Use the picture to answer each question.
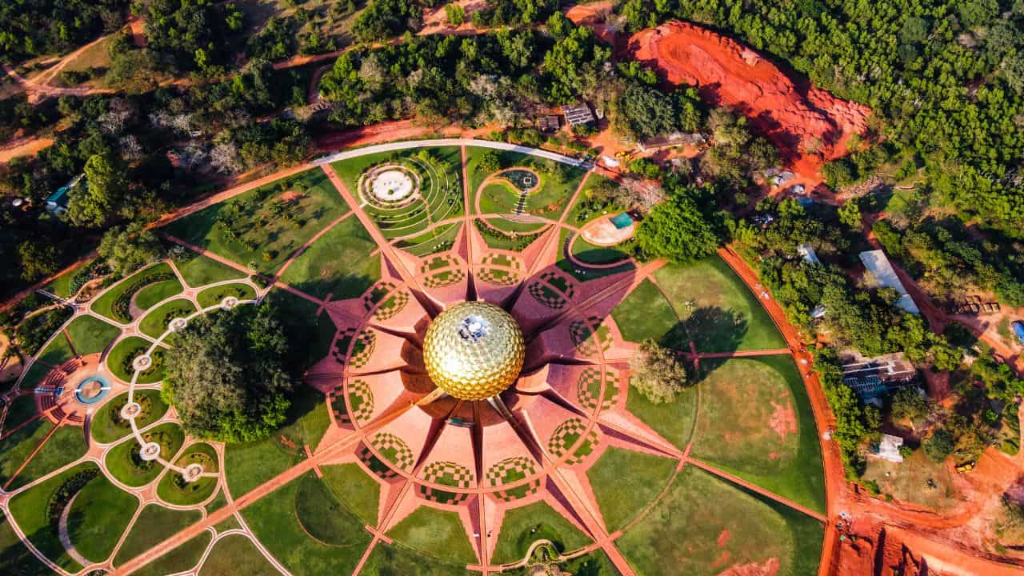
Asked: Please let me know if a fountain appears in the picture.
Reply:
Yes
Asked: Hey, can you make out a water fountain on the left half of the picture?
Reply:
Yes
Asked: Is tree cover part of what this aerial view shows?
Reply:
Yes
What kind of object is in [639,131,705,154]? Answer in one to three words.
house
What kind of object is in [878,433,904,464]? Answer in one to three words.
house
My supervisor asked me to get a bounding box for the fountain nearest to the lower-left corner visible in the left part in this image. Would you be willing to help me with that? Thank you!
[74,374,111,405]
